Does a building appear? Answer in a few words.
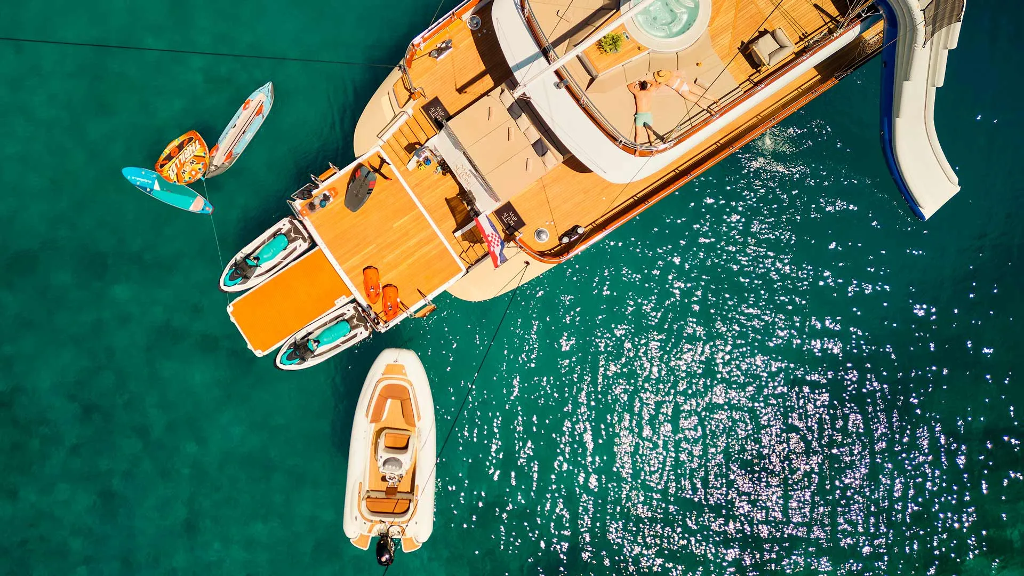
No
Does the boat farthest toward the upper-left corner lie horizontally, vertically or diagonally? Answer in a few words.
diagonally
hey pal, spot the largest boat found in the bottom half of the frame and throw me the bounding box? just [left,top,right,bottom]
[346,348,437,568]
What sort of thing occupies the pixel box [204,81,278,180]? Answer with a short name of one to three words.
boat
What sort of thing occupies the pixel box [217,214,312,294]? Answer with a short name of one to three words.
boat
